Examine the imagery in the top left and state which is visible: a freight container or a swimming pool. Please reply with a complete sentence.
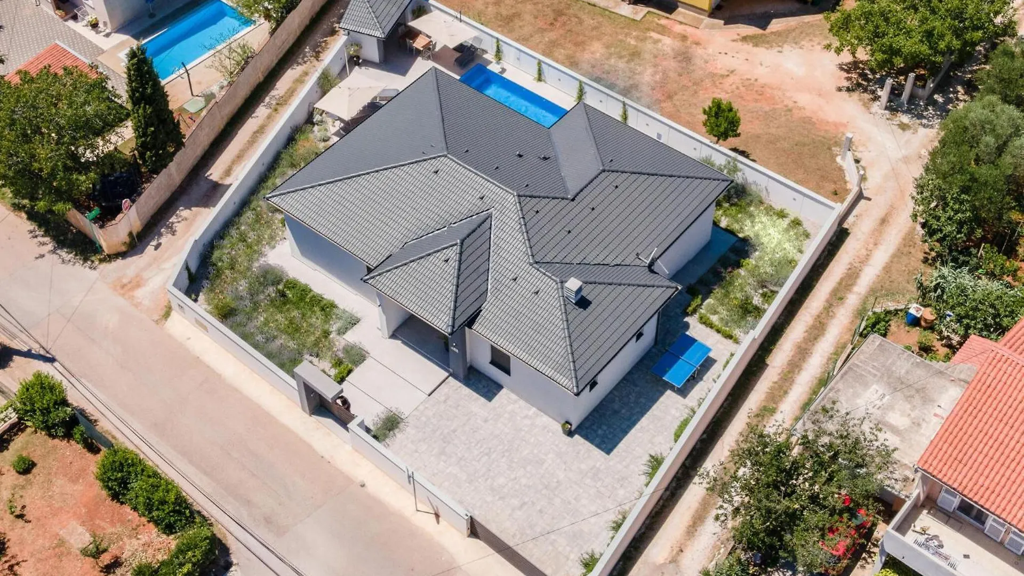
Visible in the top left is a swimming pool.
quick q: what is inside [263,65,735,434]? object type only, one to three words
house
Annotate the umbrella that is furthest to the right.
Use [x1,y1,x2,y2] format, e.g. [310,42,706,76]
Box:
[407,2,477,52]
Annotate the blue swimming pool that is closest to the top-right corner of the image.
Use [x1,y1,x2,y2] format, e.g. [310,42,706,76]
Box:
[459,64,568,127]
